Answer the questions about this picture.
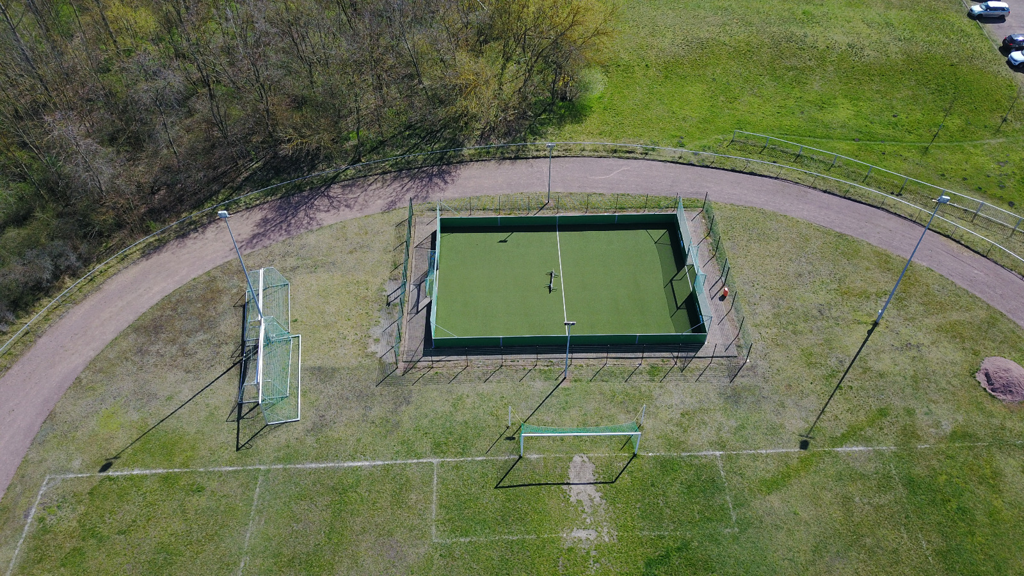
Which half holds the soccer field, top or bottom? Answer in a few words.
bottom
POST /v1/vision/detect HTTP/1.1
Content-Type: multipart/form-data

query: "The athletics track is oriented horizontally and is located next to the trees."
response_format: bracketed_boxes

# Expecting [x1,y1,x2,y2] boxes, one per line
[0,156,1024,492]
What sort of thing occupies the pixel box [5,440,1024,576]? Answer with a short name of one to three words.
soccer field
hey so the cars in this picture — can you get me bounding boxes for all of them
[1008,46,1024,65]
[966,2,1013,22]
[1001,28,1024,47]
